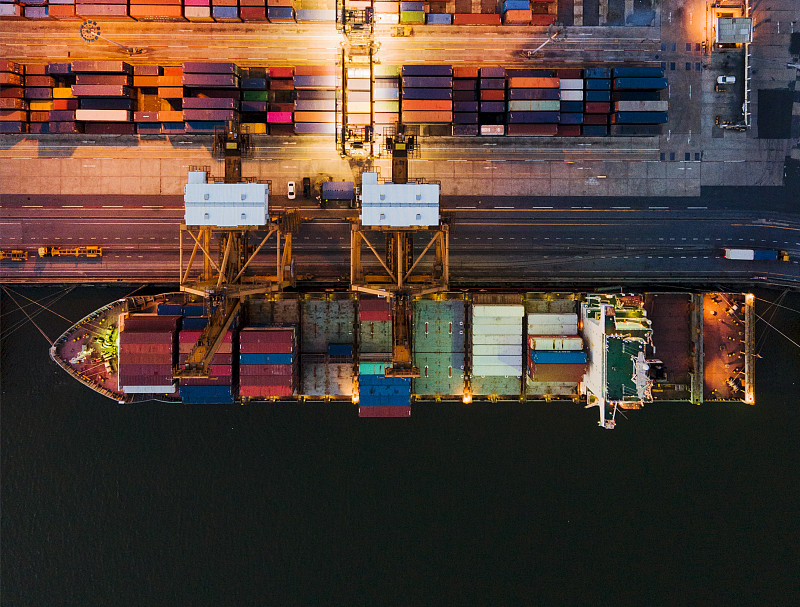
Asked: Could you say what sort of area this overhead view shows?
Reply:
port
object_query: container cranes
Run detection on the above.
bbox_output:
[333,119,463,374]
[169,118,323,375]
[336,41,387,162]
[336,0,387,49]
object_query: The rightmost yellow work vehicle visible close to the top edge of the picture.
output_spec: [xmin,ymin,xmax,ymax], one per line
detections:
[385,26,412,38]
